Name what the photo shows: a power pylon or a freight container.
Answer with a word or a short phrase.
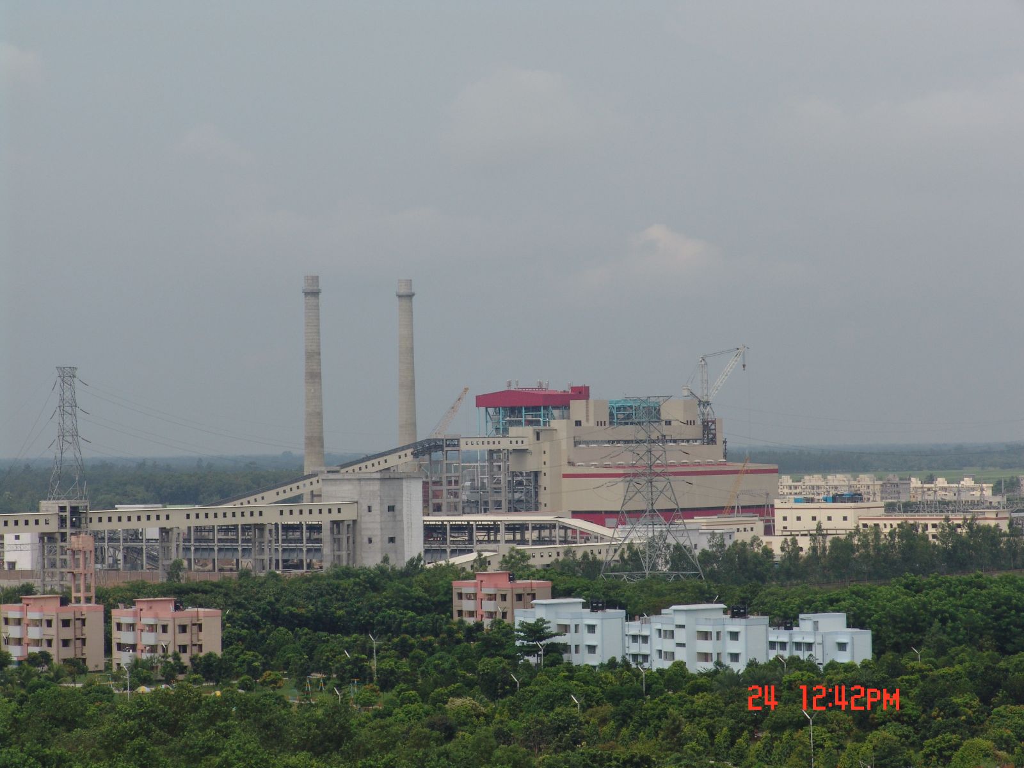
power pylon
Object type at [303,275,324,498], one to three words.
chimney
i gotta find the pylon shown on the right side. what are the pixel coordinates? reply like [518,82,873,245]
[593,396,707,588]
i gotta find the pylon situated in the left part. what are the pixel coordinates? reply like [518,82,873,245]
[48,367,91,567]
